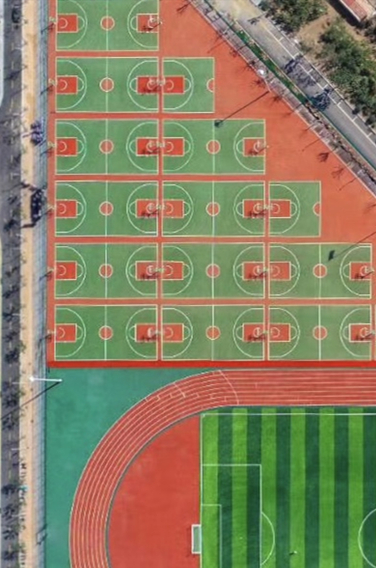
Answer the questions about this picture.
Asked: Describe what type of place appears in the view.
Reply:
sports ground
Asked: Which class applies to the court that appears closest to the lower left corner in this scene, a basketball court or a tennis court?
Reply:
basketball court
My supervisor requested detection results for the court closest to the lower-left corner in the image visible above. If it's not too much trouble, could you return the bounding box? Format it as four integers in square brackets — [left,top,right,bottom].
[54,304,158,360]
